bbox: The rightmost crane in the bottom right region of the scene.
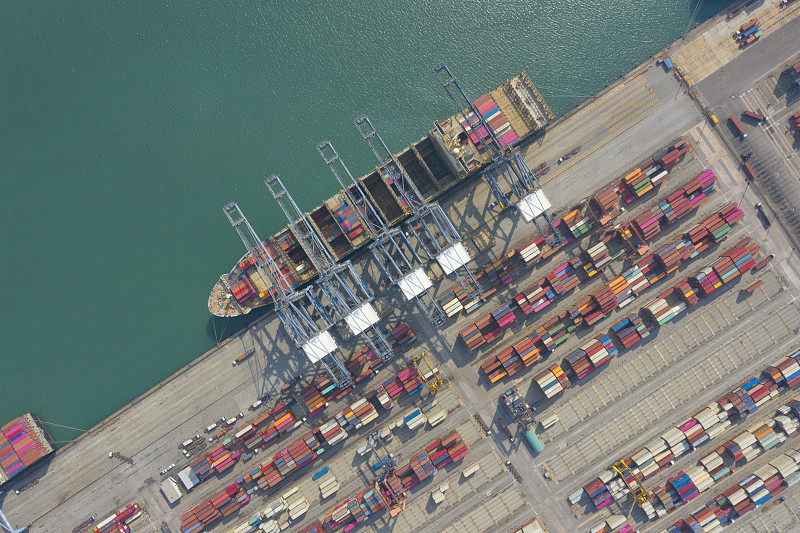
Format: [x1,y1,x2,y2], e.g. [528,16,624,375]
[604,452,647,501]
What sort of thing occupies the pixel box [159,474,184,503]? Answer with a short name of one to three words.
building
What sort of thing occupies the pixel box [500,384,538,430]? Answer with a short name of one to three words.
crane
